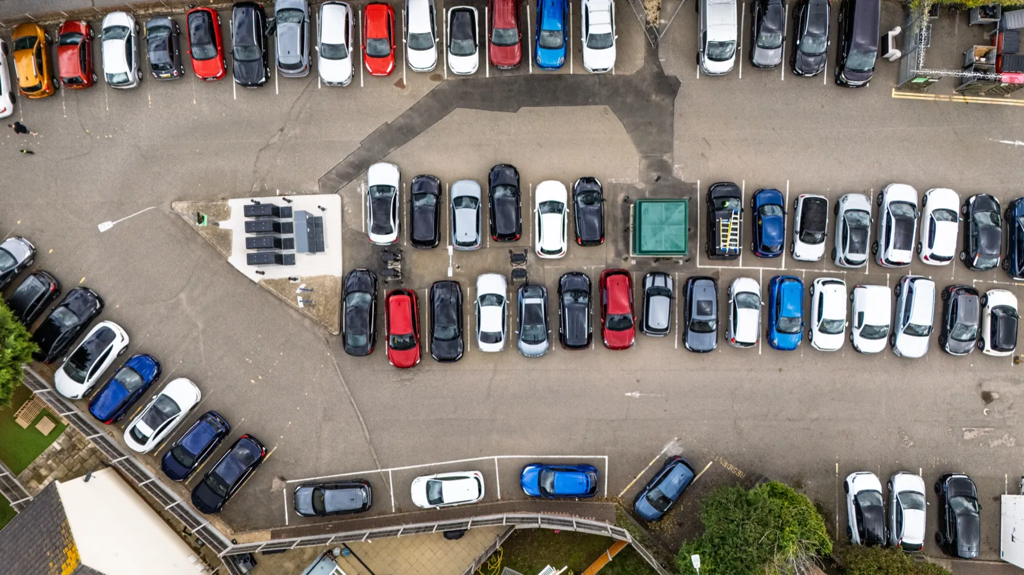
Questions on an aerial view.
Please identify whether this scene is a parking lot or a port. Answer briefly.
parking lot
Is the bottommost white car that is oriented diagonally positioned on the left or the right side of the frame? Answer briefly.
left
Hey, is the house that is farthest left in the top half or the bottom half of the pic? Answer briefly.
bottom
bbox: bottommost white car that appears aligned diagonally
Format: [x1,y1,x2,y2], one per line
[124,379,200,455]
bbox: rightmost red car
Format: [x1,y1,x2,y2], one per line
[599,270,639,350]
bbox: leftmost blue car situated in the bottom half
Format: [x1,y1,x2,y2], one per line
[88,354,161,426]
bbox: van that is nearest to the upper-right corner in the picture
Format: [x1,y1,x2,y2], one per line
[837,0,885,88]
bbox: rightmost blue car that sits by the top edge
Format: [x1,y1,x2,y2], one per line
[532,0,571,70]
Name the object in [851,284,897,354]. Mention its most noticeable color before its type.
white van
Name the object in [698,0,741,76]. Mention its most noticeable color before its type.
white van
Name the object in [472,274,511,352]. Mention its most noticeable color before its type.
white car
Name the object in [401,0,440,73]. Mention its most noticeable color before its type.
white car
